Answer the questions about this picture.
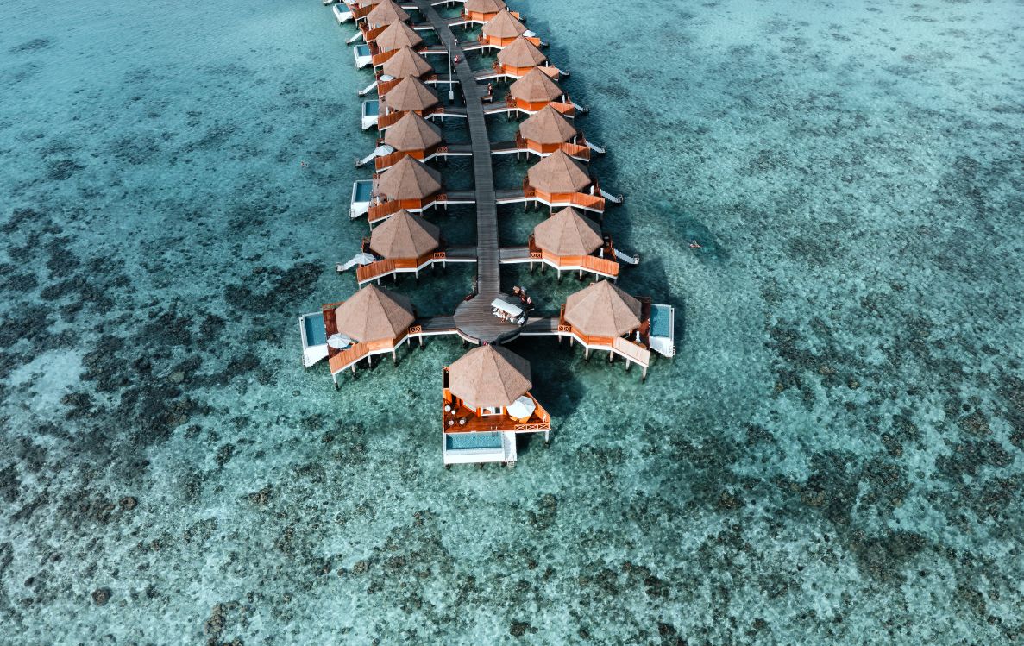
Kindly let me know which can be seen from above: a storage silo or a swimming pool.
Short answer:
swimming pool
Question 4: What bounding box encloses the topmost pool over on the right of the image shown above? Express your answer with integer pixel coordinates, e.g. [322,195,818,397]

[650,303,676,346]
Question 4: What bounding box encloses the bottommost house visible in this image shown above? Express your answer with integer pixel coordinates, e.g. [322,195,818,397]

[443,344,554,478]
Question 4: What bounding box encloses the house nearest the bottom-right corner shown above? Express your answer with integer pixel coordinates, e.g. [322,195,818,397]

[556,280,676,387]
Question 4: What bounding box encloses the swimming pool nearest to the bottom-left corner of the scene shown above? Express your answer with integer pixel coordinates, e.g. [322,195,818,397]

[300,311,328,357]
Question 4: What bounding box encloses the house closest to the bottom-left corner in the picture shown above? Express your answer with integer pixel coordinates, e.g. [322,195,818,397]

[303,284,424,395]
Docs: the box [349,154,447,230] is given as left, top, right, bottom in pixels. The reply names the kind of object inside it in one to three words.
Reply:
house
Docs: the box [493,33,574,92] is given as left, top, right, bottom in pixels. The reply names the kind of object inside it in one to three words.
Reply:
house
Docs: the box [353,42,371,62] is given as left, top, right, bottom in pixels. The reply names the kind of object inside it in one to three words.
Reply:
swimming pool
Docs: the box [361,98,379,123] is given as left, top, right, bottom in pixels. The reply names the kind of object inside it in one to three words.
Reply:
swimming pool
